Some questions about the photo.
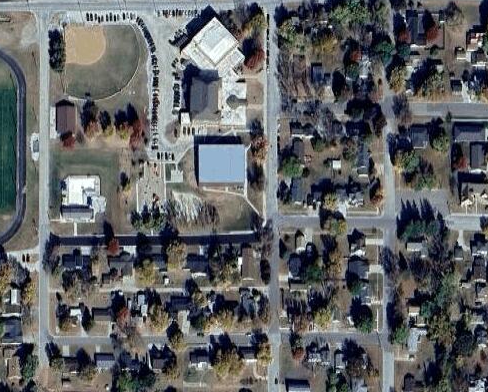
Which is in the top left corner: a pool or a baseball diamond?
baseball diamond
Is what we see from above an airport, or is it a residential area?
residential area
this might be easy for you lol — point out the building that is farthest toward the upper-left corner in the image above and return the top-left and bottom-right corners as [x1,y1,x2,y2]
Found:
[57,104,76,135]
